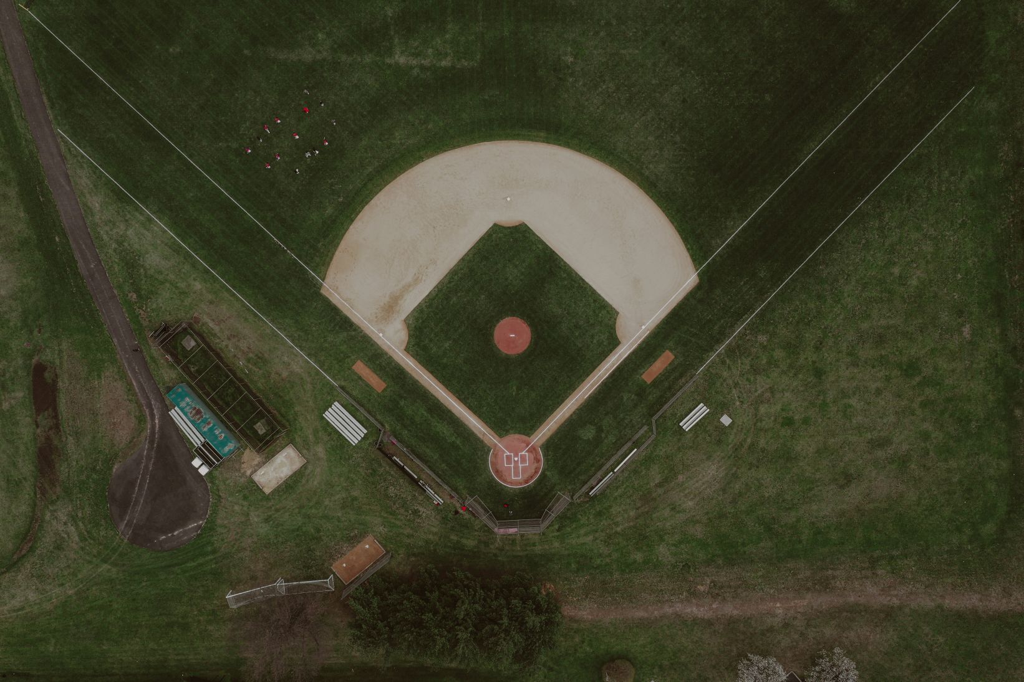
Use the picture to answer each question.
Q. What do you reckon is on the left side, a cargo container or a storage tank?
cargo container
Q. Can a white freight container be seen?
No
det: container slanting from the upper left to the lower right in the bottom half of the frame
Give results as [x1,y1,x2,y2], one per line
[168,383,241,457]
